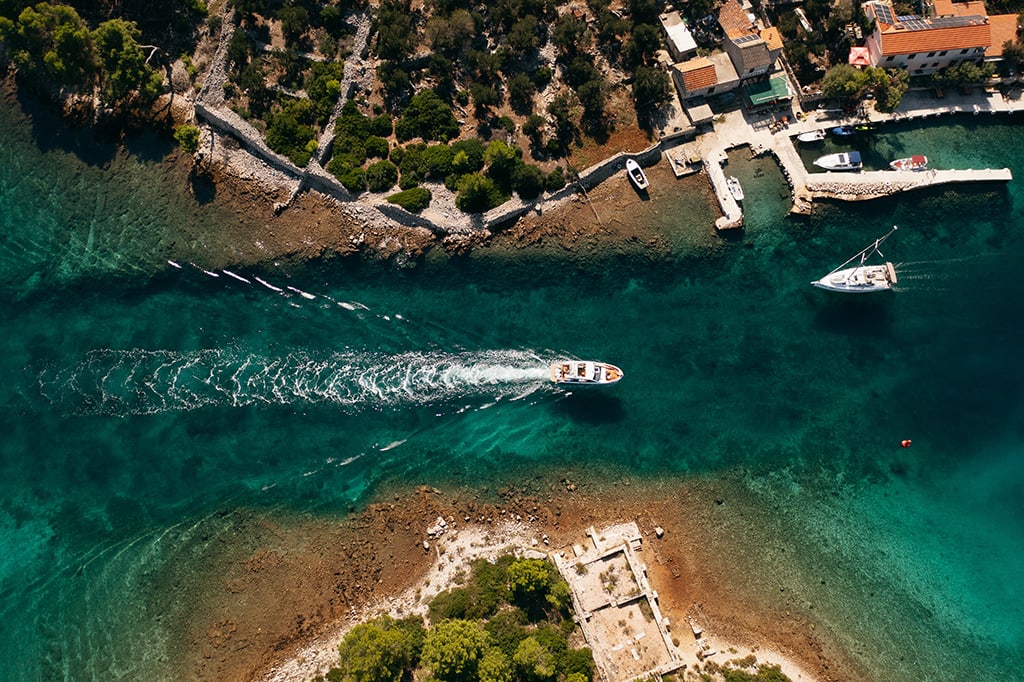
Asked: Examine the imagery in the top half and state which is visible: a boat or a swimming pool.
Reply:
boat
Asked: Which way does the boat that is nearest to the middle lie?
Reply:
from left to right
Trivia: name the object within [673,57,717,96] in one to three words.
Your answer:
house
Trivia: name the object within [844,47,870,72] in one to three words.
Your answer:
gazebo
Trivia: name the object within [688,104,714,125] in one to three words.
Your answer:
shed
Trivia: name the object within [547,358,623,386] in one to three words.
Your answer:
boat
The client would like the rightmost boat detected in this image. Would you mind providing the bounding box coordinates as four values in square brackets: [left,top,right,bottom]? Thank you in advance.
[884,153,932,171]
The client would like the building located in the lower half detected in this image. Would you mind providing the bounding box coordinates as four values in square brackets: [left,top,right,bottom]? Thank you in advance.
[551,523,687,682]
